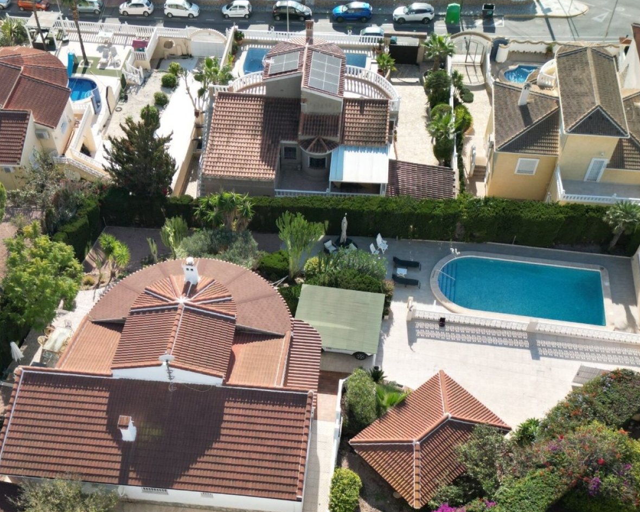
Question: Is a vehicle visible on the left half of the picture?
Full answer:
Yes, on the left half of the picture there is a vehicle.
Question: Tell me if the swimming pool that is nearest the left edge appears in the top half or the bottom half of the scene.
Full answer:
You can find the swimming pool that is nearest the left edge in the top half.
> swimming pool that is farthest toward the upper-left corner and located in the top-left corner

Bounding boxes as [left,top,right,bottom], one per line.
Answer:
[68,75,102,103]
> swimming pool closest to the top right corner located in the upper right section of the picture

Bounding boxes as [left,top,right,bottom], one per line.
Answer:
[500,62,548,81]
